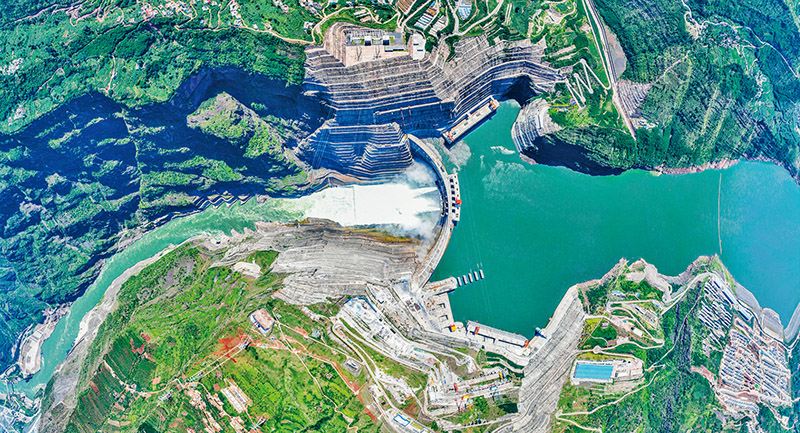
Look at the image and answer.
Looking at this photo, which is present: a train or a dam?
dam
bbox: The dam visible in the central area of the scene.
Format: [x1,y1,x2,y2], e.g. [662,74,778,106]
[402,130,460,292]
